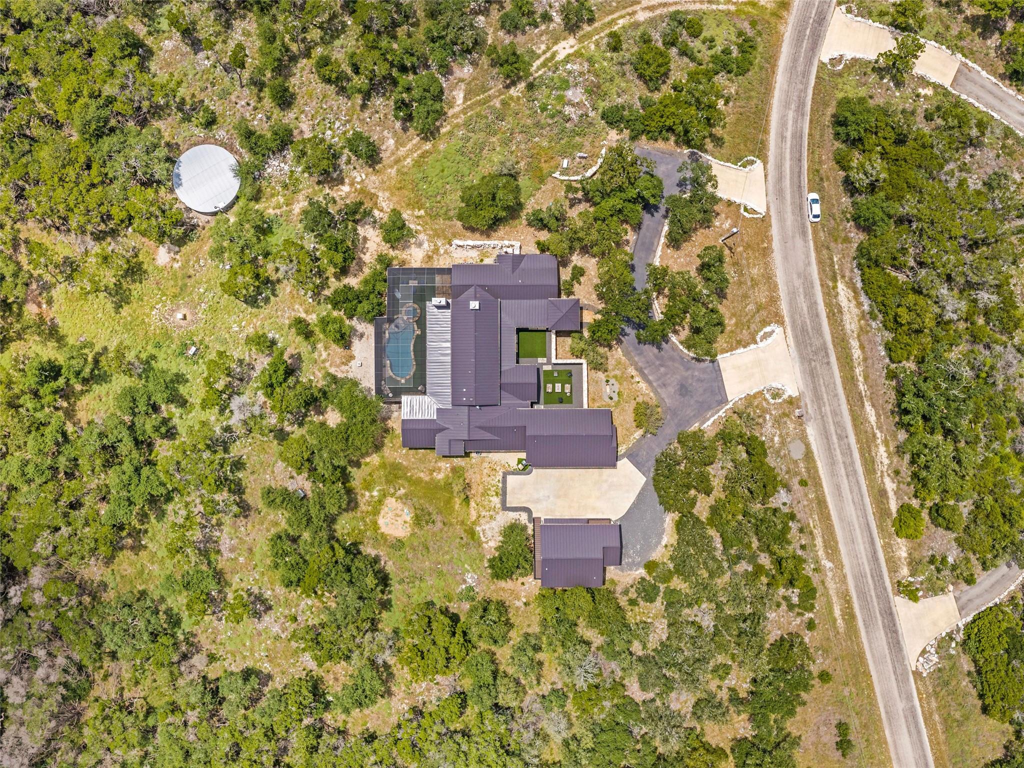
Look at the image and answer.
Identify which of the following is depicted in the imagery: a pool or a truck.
pool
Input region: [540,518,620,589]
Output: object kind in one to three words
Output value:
shed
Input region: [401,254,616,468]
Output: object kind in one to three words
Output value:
house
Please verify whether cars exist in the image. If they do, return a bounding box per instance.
[806,193,822,223]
